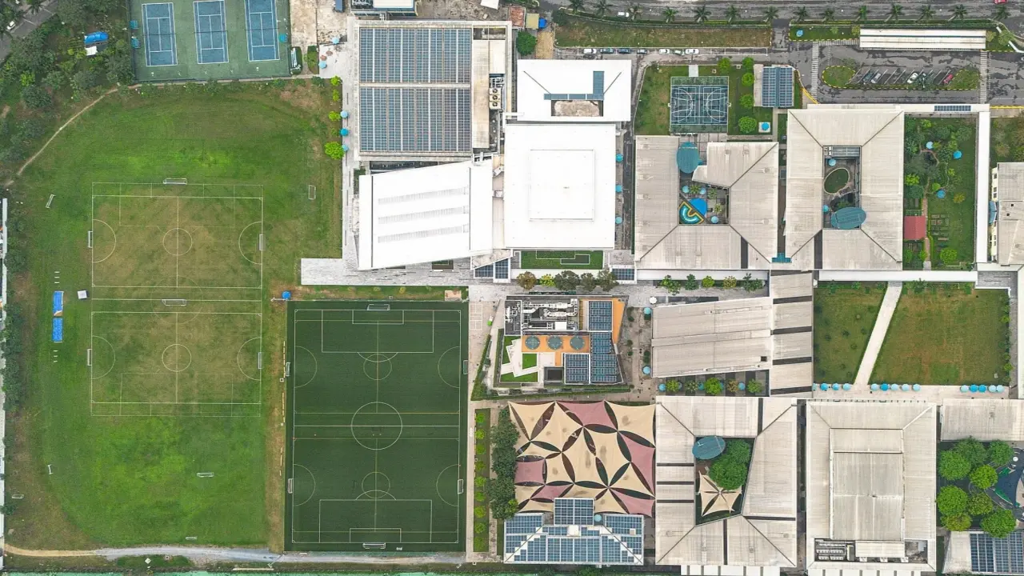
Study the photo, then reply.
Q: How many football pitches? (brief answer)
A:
2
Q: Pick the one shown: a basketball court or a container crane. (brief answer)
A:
basketball court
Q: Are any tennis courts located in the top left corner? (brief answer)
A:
Yes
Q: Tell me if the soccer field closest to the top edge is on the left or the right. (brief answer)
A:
left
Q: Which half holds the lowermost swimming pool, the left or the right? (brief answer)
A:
right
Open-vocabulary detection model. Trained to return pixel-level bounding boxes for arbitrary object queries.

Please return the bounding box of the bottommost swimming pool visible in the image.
[679,201,705,224]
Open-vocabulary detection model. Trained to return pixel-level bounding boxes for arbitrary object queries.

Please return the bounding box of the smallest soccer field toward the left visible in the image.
[91,183,263,416]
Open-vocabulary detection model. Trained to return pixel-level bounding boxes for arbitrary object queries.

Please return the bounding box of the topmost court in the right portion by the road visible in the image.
[670,76,729,133]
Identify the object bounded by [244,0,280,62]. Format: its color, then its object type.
blue tennis court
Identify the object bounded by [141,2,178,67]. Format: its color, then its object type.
blue tennis court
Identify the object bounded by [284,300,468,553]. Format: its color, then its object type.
green soccer field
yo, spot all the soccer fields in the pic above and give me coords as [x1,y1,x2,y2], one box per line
[284,300,468,553]
[91,183,263,416]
